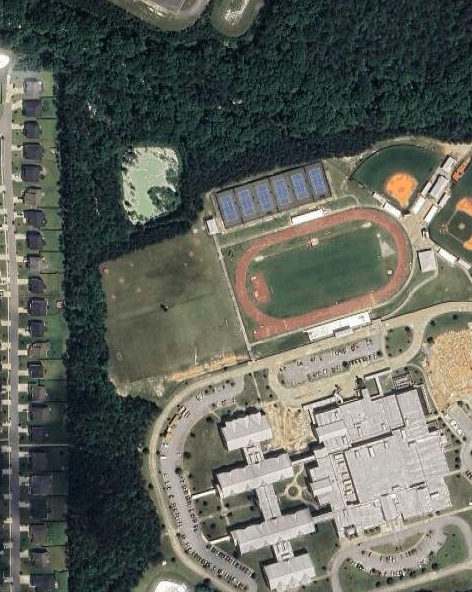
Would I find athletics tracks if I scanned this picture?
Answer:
Yes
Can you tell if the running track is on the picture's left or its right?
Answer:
right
